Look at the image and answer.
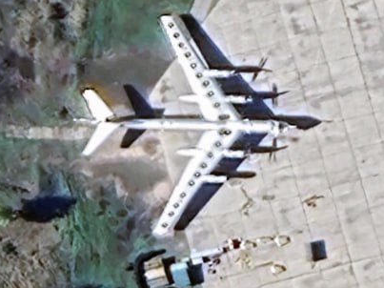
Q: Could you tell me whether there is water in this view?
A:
No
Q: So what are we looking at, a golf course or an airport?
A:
airport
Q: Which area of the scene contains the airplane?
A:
center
